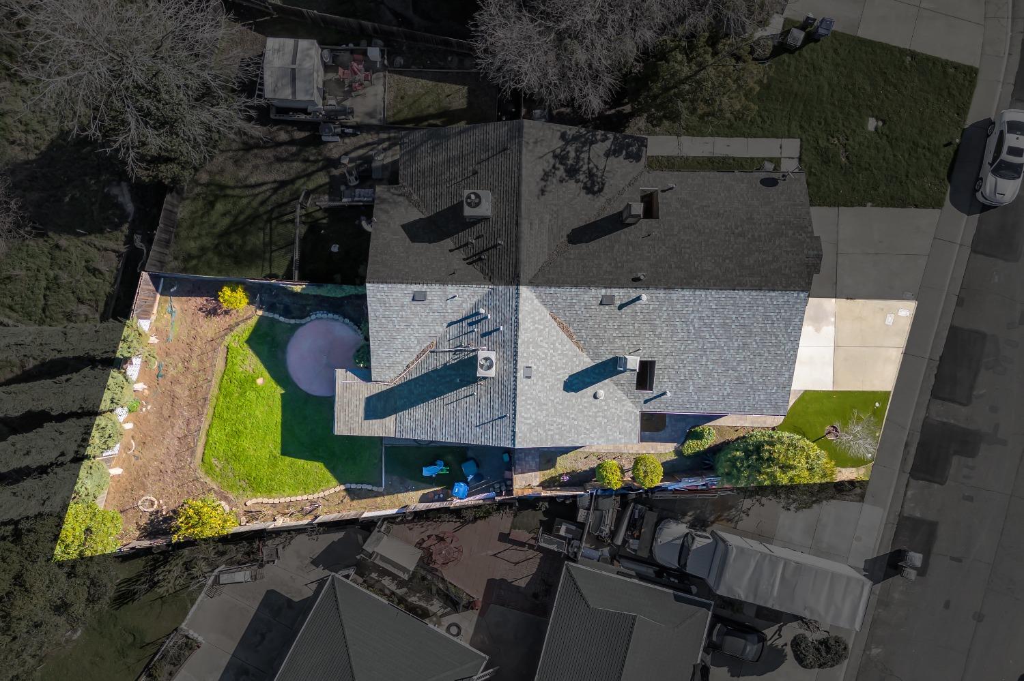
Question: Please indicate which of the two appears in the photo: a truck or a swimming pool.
truck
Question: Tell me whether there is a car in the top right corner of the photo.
Yes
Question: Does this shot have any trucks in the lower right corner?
Yes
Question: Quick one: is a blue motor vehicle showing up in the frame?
No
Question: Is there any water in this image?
No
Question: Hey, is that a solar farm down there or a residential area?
residential area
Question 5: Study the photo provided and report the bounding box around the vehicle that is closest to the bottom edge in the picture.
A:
[703,620,779,673]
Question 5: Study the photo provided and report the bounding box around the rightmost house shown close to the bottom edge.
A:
[534,557,716,681]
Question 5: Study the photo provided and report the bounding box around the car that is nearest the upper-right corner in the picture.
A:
[976,102,1024,207]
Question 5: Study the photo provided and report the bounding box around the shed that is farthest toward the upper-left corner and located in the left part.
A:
[264,34,330,114]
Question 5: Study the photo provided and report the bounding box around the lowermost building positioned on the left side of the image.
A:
[273,569,491,681]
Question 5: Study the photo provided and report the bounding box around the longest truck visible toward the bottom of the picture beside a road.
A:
[645,514,872,631]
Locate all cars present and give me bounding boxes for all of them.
[976,102,1024,207]
[703,620,779,673]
